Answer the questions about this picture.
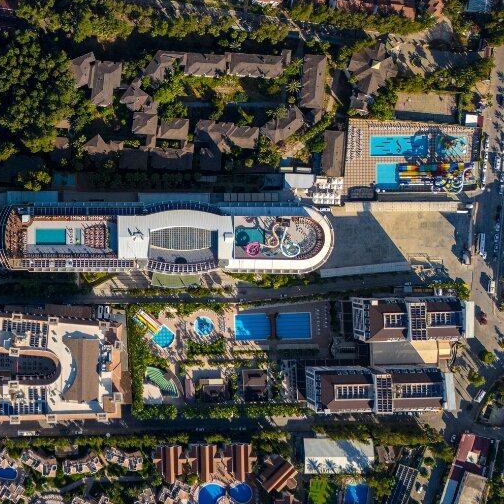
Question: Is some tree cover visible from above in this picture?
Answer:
Yes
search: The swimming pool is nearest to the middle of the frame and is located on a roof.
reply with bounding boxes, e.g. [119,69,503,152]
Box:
[236,226,266,246]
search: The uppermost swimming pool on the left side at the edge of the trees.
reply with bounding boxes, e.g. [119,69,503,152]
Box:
[53,173,76,186]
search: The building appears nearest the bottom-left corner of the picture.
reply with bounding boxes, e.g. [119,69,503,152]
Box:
[0,478,25,504]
